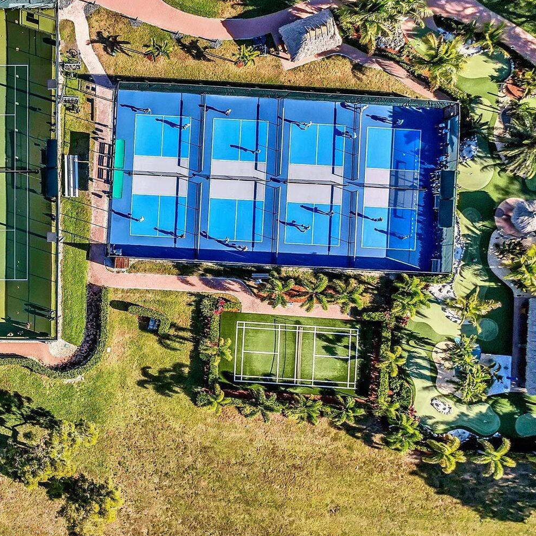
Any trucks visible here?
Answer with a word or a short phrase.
No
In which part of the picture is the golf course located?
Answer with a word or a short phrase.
right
